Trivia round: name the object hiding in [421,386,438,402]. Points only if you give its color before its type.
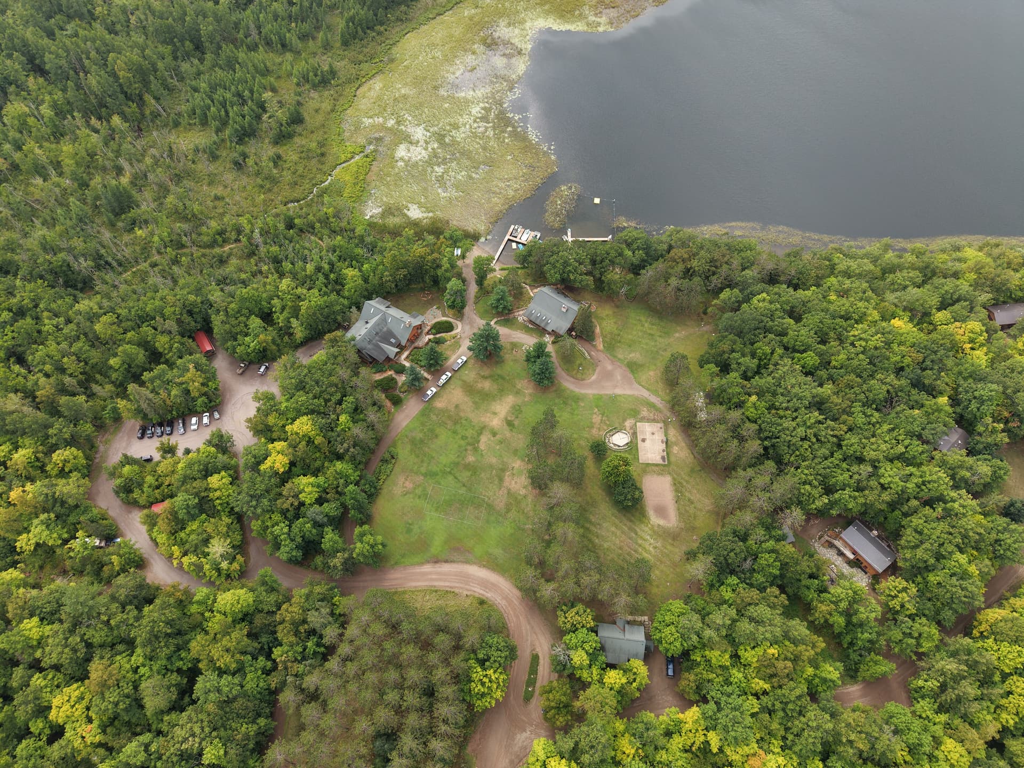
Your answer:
white vehicle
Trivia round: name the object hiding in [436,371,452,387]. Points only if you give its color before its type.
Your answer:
white vehicle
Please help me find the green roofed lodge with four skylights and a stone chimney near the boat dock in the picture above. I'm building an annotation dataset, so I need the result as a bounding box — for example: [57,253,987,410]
[523,286,584,339]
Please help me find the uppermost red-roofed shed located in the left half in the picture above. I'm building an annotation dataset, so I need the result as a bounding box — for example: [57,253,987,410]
[195,331,218,360]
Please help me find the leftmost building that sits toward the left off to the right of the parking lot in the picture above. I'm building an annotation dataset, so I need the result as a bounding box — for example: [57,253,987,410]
[344,297,432,367]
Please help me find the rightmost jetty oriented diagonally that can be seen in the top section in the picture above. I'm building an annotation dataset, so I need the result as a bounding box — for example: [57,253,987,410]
[491,225,534,266]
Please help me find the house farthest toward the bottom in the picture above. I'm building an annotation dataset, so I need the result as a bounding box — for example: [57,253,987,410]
[596,617,653,667]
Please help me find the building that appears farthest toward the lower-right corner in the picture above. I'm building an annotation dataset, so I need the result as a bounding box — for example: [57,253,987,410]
[818,521,896,575]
